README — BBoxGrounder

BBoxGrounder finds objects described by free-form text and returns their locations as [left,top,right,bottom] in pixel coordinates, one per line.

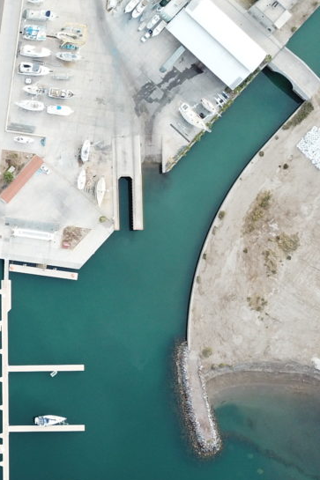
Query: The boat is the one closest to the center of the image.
[92,178,114,207]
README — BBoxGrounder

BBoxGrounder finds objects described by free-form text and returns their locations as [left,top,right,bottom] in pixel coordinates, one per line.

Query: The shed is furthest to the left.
[0,154,44,205]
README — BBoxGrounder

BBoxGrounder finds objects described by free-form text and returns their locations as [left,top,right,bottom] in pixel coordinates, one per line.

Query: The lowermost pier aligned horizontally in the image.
[9,260,78,280]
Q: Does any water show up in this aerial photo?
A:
Yes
